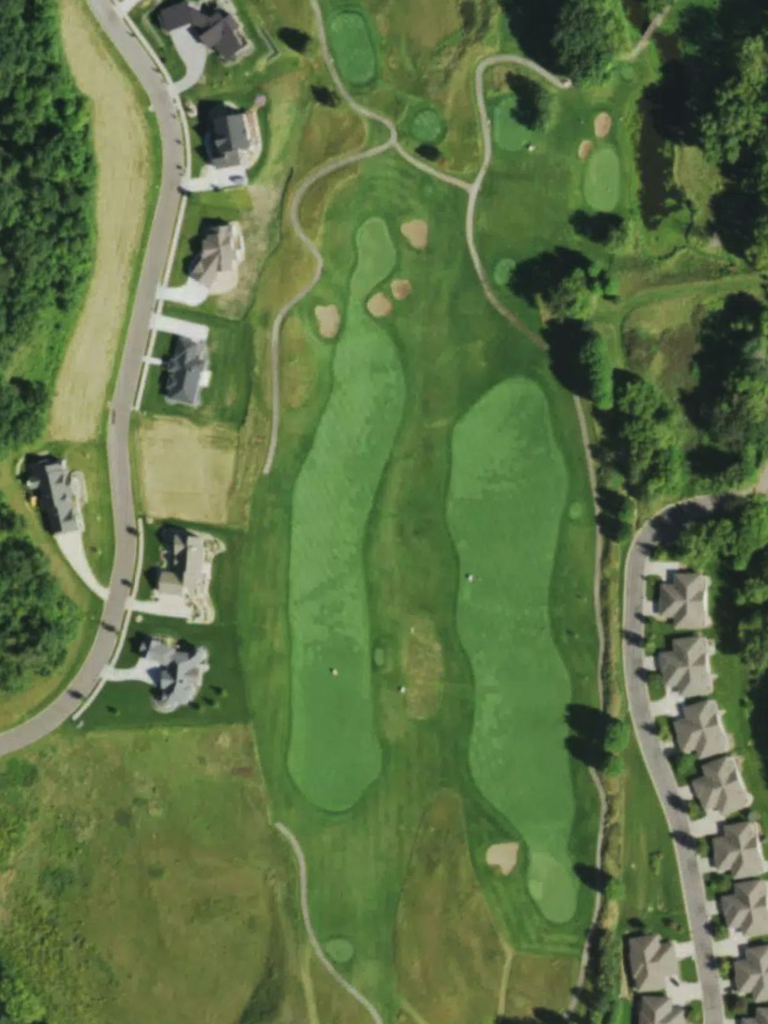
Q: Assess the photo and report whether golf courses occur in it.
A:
Yes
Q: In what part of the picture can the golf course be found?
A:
center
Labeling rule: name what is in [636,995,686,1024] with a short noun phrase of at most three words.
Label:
house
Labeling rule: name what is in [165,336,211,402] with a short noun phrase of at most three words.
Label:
house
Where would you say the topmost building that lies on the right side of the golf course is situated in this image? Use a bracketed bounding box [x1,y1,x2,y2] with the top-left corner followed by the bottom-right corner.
[658,573,708,628]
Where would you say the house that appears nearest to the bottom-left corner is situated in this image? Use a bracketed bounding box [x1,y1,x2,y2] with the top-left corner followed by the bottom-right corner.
[145,637,211,711]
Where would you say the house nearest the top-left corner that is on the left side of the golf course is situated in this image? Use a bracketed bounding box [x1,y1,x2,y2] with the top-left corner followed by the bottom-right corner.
[158,1,240,59]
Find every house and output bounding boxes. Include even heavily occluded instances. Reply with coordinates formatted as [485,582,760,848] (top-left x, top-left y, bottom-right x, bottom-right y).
[156,534,204,595]
[145,637,211,711]
[720,880,768,939]
[691,757,748,818]
[24,457,79,534]
[734,946,768,1003]
[671,698,727,759]
[158,1,240,59]
[636,995,686,1024]
[660,637,712,695]
[207,111,251,170]
[165,336,211,402]
[711,820,765,879]
[658,573,708,628]
[188,225,234,288]
[623,935,675,993]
